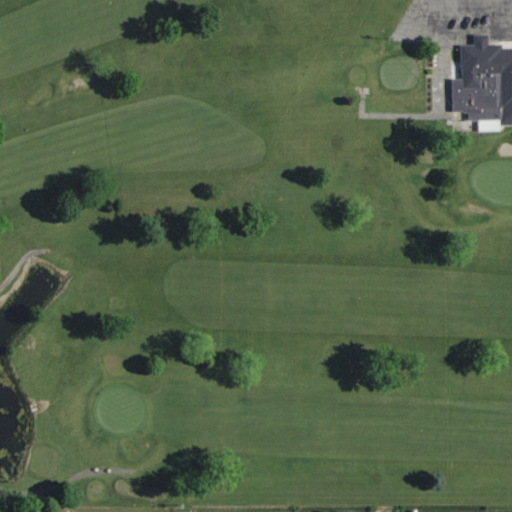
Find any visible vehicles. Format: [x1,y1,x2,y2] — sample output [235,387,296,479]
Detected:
[482,15,488,24]
[451,18,456,28]
[464,17,470,28]
[474,18,479,27]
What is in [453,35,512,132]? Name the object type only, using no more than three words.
building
